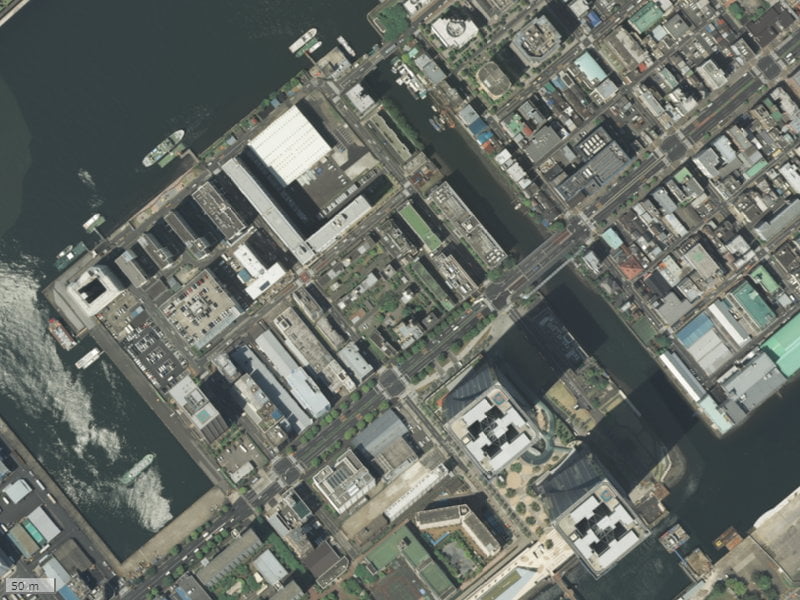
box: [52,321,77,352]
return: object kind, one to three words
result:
ship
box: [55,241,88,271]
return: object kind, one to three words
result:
pier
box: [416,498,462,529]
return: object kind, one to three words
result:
building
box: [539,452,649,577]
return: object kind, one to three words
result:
building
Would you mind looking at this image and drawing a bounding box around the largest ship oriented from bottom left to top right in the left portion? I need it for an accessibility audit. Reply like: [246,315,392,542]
[140,130,186,168]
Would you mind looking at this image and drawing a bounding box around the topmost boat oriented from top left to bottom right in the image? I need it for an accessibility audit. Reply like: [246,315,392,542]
[338,38,356,58]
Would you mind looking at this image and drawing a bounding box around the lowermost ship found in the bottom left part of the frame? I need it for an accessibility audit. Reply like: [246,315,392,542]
[120,454,155,484]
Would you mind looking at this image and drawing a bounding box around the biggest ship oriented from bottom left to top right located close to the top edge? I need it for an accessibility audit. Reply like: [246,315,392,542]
[288,29,317,54]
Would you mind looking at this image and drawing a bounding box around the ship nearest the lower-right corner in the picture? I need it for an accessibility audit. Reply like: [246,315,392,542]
[712,526,743,551]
